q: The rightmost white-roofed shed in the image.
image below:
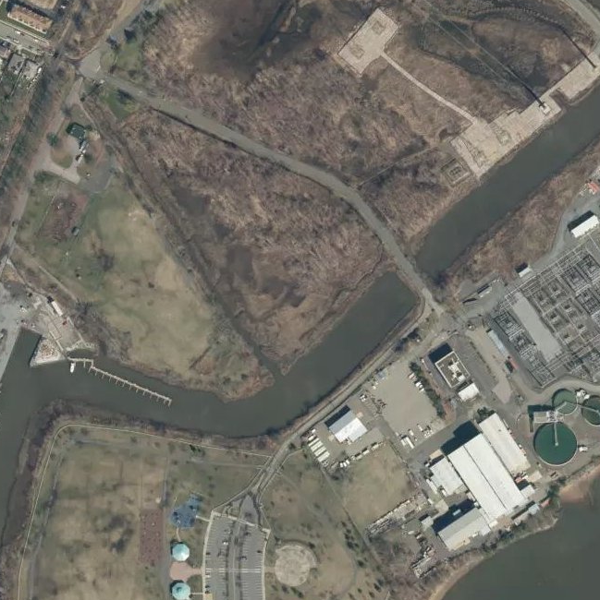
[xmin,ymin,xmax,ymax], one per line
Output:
[570,214,600,238]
